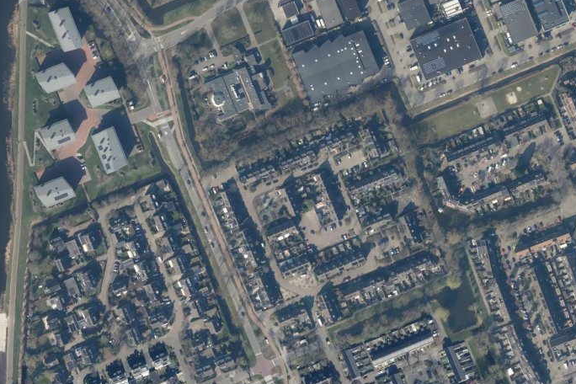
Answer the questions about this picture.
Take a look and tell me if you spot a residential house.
Yes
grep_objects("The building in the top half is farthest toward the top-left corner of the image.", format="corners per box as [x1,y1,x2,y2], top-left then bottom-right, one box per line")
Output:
[47,5,82,55]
